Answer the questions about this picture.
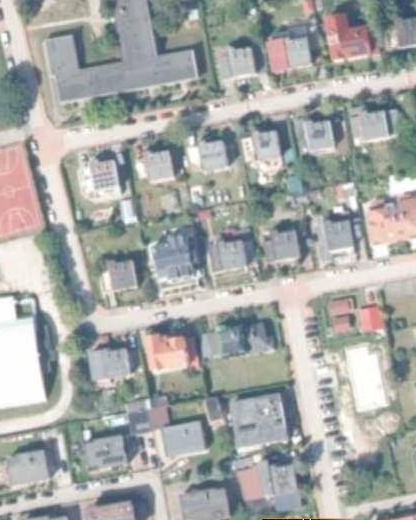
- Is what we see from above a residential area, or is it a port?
residential area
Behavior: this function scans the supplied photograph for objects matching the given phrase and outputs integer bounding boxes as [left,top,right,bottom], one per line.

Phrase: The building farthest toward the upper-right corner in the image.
[387,18,416,51]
